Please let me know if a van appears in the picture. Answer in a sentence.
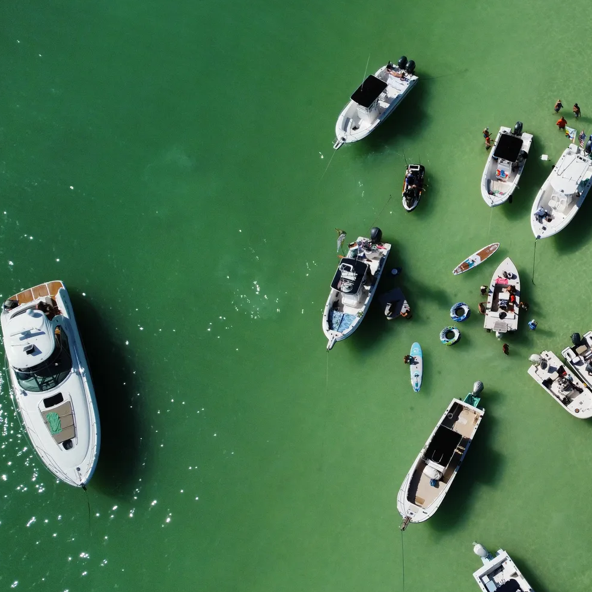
No, no van is visible in the view.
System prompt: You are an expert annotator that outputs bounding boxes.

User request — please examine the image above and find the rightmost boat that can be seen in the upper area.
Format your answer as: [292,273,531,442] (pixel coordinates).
[530,136,592,282]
